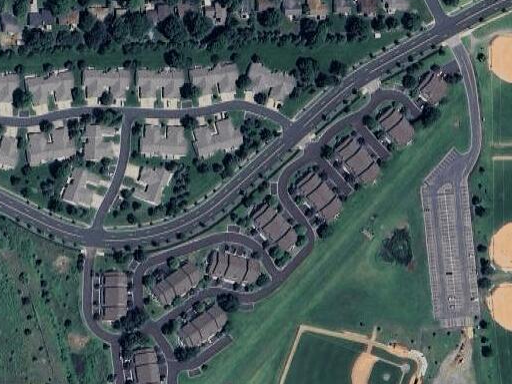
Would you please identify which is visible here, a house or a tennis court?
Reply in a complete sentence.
Of the two, only a house appears.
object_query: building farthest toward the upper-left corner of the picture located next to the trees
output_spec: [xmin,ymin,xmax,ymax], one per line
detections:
[0,15,22,37]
